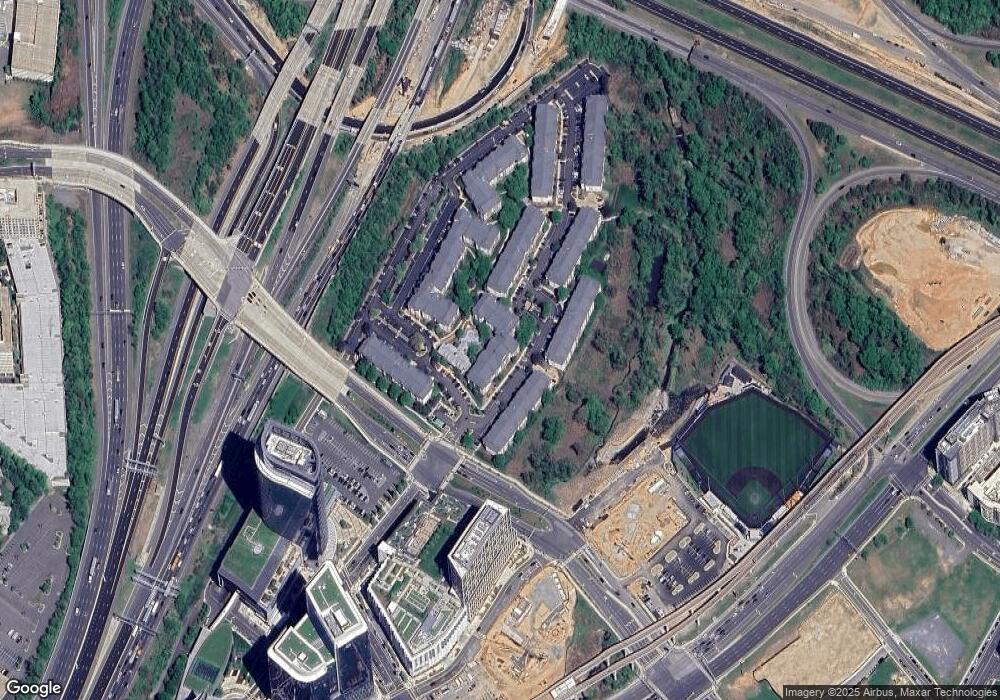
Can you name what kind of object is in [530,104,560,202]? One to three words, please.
building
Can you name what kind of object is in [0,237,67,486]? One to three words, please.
building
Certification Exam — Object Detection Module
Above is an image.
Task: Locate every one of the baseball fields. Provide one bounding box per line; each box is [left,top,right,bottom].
[677,386,835,530]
